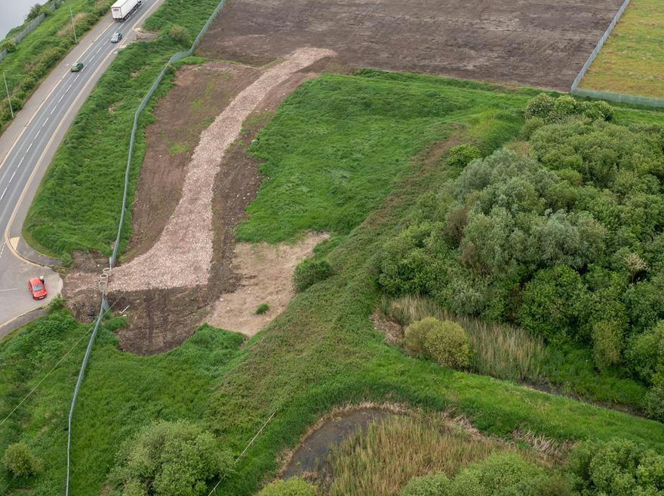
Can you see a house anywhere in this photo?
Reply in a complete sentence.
No, there is no house in the image.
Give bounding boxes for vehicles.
[110,32,122,41]
[29,274,47,297]
[70,58,82,69]
[111,0,139,19]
